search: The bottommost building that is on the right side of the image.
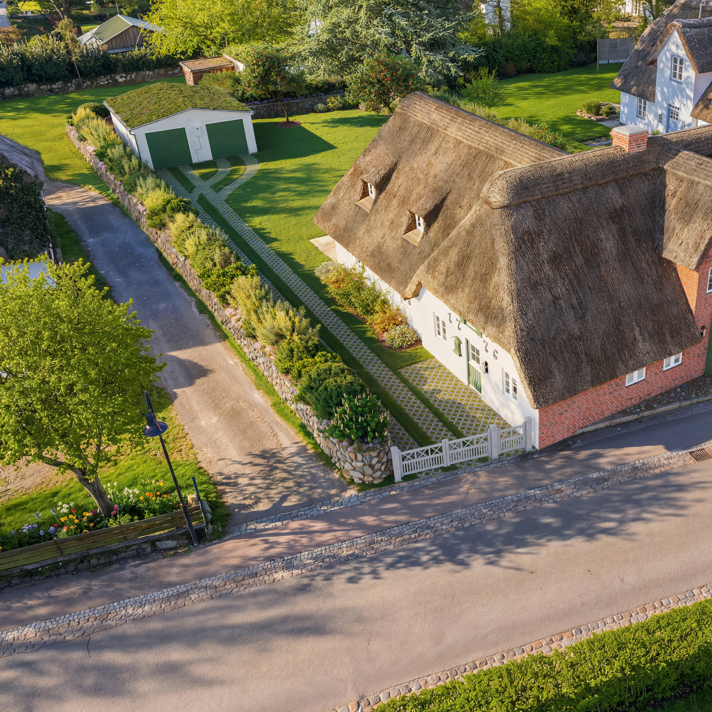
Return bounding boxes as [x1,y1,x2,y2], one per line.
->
[313,85,712,450]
